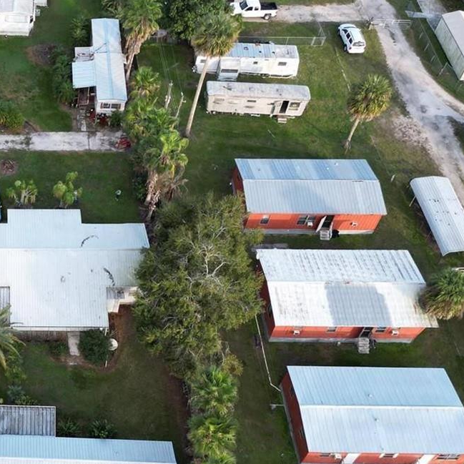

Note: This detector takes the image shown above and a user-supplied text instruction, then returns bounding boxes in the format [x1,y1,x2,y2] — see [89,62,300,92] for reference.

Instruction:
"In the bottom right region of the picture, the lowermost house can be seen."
[280,367,464,464]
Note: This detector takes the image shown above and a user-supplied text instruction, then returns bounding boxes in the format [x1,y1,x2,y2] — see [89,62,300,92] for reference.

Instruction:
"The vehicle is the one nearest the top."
[230,0,280,19]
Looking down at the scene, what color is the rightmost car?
white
